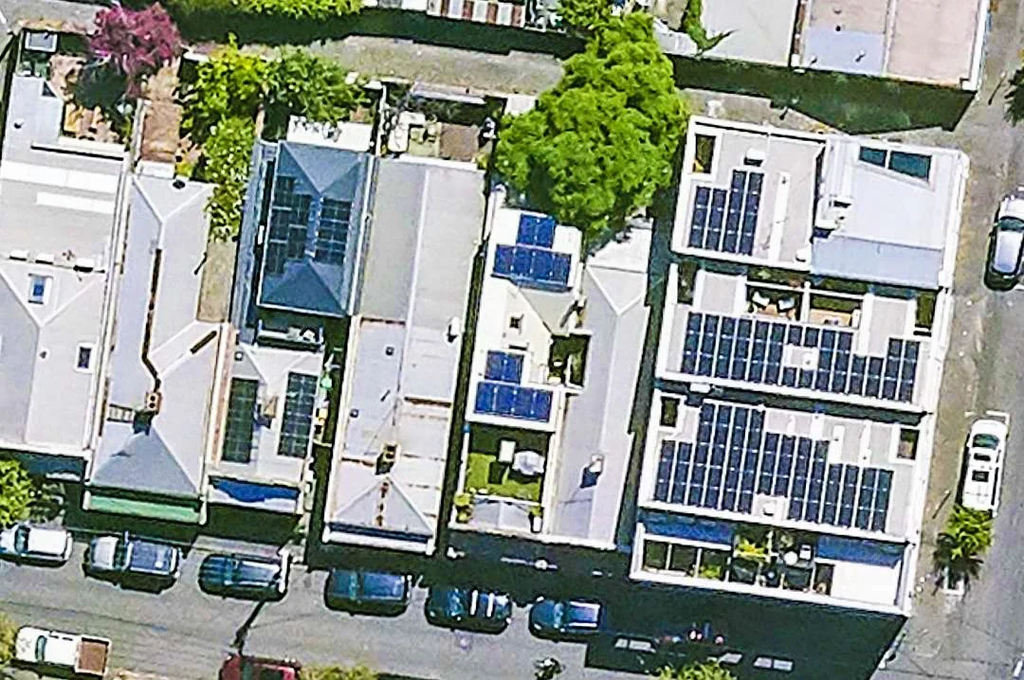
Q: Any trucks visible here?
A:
Yes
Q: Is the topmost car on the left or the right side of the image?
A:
right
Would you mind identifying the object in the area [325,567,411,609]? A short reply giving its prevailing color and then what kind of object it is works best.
blue car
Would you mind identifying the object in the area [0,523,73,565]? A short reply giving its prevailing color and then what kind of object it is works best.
white car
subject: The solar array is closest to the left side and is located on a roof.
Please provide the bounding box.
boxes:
[222,377,258,463]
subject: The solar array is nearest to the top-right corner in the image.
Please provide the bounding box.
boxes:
[689,171,764,253]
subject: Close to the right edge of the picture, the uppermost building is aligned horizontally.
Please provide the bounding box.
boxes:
[797,0,987,93]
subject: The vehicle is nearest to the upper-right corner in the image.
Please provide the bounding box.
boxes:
[981,192,1024,289]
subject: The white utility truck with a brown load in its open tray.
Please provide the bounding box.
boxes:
[9,628,117,677]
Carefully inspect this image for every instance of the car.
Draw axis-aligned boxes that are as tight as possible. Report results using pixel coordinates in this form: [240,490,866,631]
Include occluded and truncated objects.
[0,523,73,565]
[528,595,605,636]
[981,192,1024,289]
[89,537,181,582]
[219,657,302,680]
[198,549,284,591]
[325,567,411,609]
[593,622,674,663]
[707,641,796,680]
[425,585,512,628]
[960,416,1008,513]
